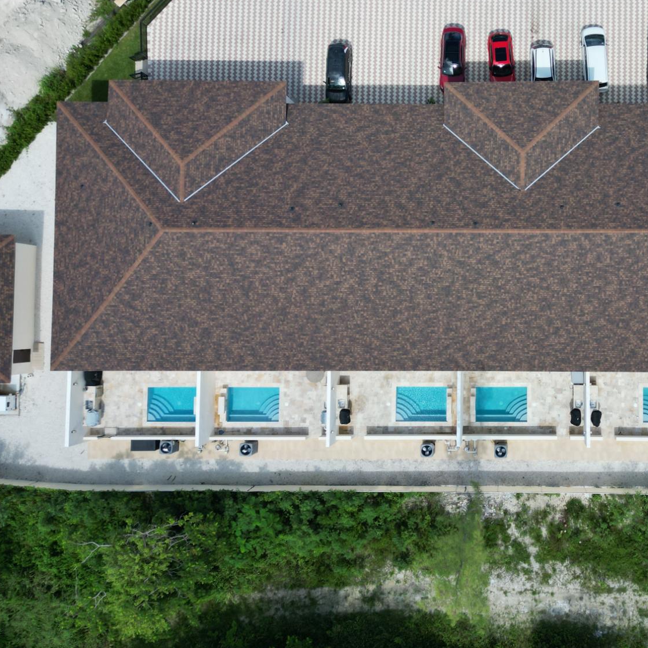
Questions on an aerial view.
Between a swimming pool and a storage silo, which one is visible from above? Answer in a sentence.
Visible in the photo is a swimming pool.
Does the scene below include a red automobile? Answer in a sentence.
Yes, the picture does show a red automobile.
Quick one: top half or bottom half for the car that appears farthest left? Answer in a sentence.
Seen from above, the car that appears farthest left lies in the top half of the view.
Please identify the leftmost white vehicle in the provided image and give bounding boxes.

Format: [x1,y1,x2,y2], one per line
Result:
[529,42,559,82]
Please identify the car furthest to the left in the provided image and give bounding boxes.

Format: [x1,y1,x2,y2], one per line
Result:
[323,41,355,101]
